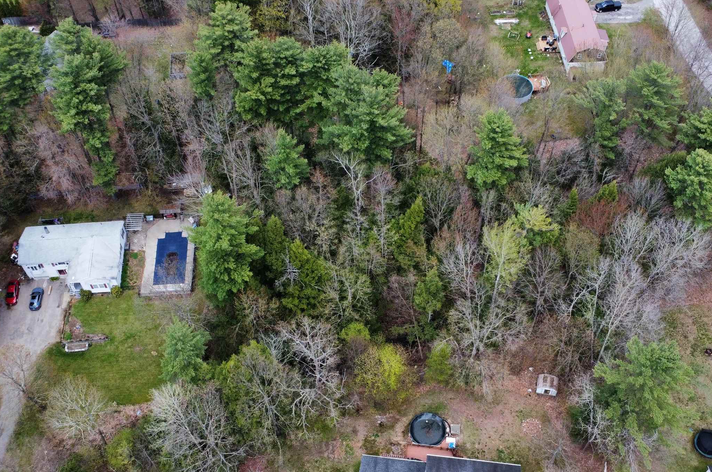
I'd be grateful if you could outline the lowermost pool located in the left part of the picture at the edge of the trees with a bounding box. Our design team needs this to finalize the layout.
[140,218,196,298]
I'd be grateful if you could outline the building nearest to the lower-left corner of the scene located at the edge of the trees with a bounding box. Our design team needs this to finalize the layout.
[16,220,135,309]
